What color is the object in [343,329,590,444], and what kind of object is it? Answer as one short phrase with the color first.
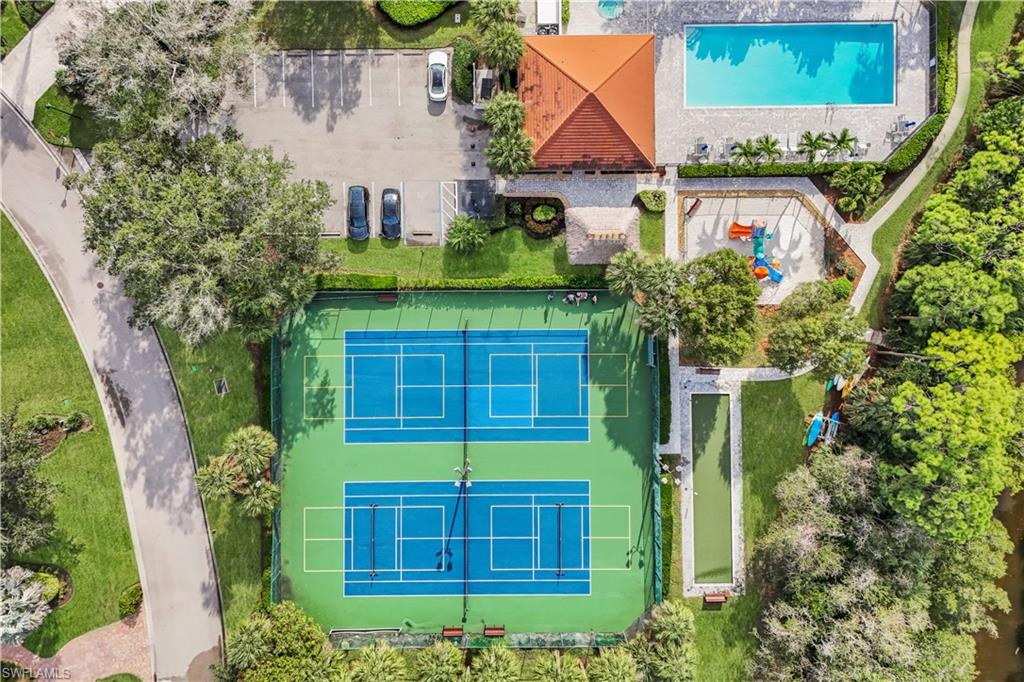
blue tennis court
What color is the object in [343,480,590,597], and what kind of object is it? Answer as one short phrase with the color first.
blue tennis court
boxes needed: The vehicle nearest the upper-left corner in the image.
[346,187,370,241]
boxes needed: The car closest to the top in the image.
[426,52,450,103]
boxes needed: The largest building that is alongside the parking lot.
[519,33,660,175]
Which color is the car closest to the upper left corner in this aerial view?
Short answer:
blue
